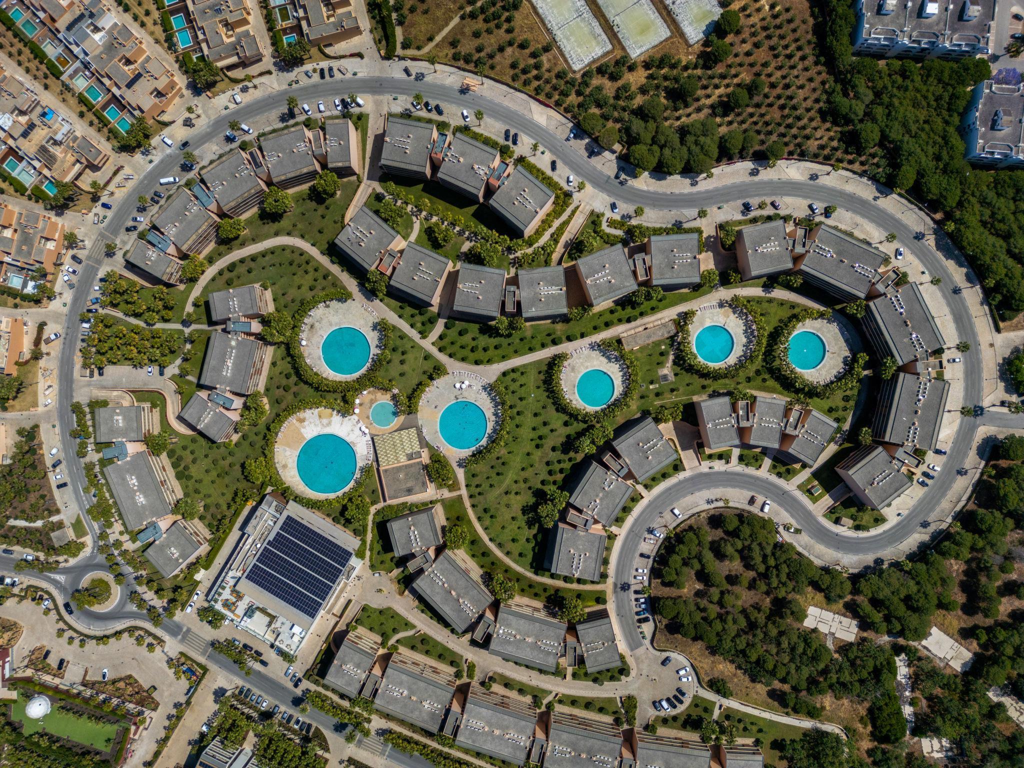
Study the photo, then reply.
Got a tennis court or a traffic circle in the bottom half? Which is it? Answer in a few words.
traffic circle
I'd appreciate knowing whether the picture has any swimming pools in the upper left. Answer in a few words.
Yes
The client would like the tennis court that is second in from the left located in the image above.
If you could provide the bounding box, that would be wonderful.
[597,0,672,59]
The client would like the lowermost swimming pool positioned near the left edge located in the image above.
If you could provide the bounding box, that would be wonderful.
[0,262,26,291]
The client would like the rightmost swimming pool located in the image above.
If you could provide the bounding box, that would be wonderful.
[786,318,852,382]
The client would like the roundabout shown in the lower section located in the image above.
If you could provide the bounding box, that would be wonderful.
[62,546,149,630]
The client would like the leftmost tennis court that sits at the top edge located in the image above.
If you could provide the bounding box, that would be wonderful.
[530,0,613,72]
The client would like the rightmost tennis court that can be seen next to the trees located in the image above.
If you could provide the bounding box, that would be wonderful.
[663,0,724,46]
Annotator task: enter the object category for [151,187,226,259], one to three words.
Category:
building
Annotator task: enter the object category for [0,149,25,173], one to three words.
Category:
swimming pool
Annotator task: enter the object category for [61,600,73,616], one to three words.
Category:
vehicle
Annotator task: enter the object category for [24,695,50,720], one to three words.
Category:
tent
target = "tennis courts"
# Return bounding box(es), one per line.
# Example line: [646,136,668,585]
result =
[597,0,672,59]
[530,0,613,72]
[663,0,724,46]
